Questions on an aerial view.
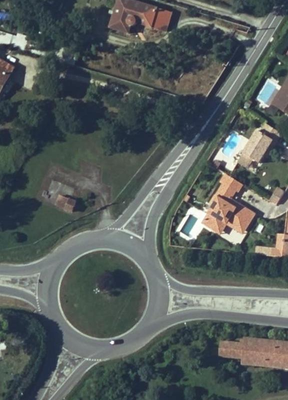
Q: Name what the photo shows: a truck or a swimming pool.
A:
swimming pool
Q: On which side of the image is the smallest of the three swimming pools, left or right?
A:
right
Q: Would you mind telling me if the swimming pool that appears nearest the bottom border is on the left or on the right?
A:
right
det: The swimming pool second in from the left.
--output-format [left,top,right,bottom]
[213,132,248,171]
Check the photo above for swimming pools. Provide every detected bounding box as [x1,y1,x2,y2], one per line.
[256,78,279,108]
[213,132,248,171]
[176,207,206,240]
